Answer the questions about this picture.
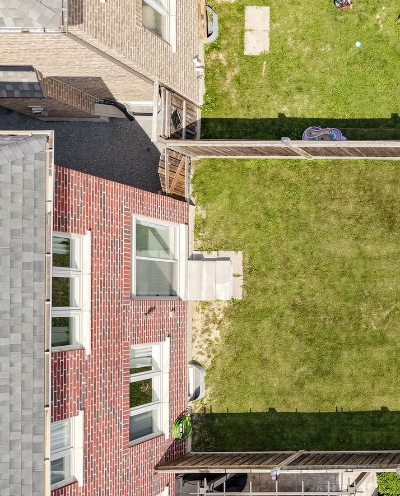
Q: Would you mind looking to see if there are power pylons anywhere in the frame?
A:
No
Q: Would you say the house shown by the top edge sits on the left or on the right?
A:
left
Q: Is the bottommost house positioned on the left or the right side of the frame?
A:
left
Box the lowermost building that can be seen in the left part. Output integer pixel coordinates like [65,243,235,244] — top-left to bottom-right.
[0,131,192,496]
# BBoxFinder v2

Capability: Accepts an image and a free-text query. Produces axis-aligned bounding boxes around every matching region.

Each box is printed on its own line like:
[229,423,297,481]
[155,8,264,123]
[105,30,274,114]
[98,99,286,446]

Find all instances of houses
[0,131,192,496]
[0,0,204,125]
